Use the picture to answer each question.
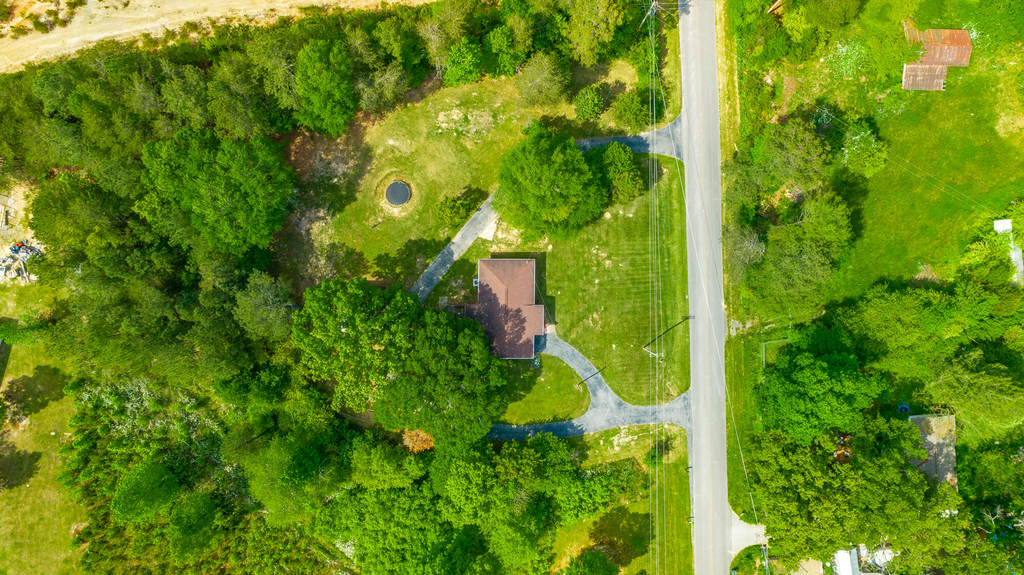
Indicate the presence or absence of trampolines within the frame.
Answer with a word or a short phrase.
Yes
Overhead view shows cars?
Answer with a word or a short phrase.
No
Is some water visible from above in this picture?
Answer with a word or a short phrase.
No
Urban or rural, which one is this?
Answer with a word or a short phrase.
rural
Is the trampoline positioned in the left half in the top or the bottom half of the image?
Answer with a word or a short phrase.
top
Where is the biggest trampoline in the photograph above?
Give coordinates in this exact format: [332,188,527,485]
[386,181,411,206]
